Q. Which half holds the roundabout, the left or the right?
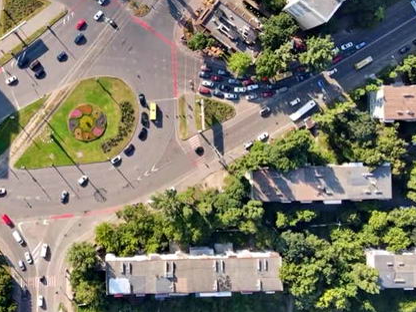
left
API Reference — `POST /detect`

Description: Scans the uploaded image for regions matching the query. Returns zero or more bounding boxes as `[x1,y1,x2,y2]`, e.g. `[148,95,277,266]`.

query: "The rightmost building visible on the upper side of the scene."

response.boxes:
[364,86,416,125]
